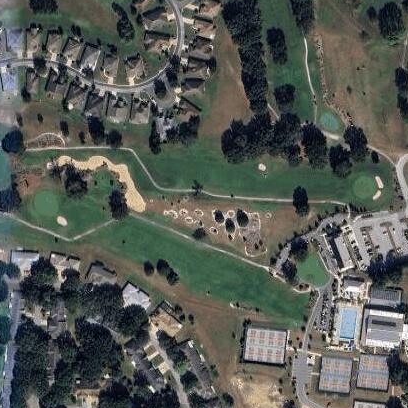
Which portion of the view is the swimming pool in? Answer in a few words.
bottom right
